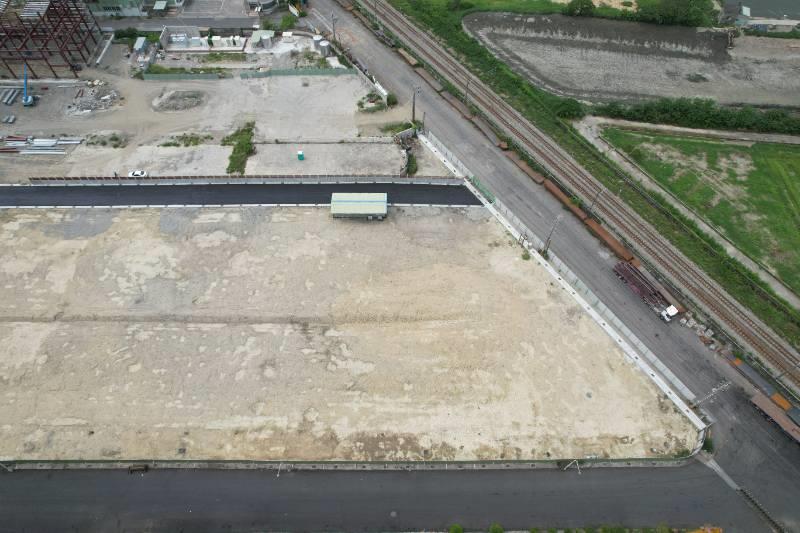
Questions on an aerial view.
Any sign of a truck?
Yes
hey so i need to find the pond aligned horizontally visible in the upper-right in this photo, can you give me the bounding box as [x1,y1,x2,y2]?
[462,13,800,116]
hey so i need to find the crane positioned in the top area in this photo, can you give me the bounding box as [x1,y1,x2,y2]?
[17,63,46,110]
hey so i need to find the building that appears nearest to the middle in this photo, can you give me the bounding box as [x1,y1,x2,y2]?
[329,190,389,221]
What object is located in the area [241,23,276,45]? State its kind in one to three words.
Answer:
shed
